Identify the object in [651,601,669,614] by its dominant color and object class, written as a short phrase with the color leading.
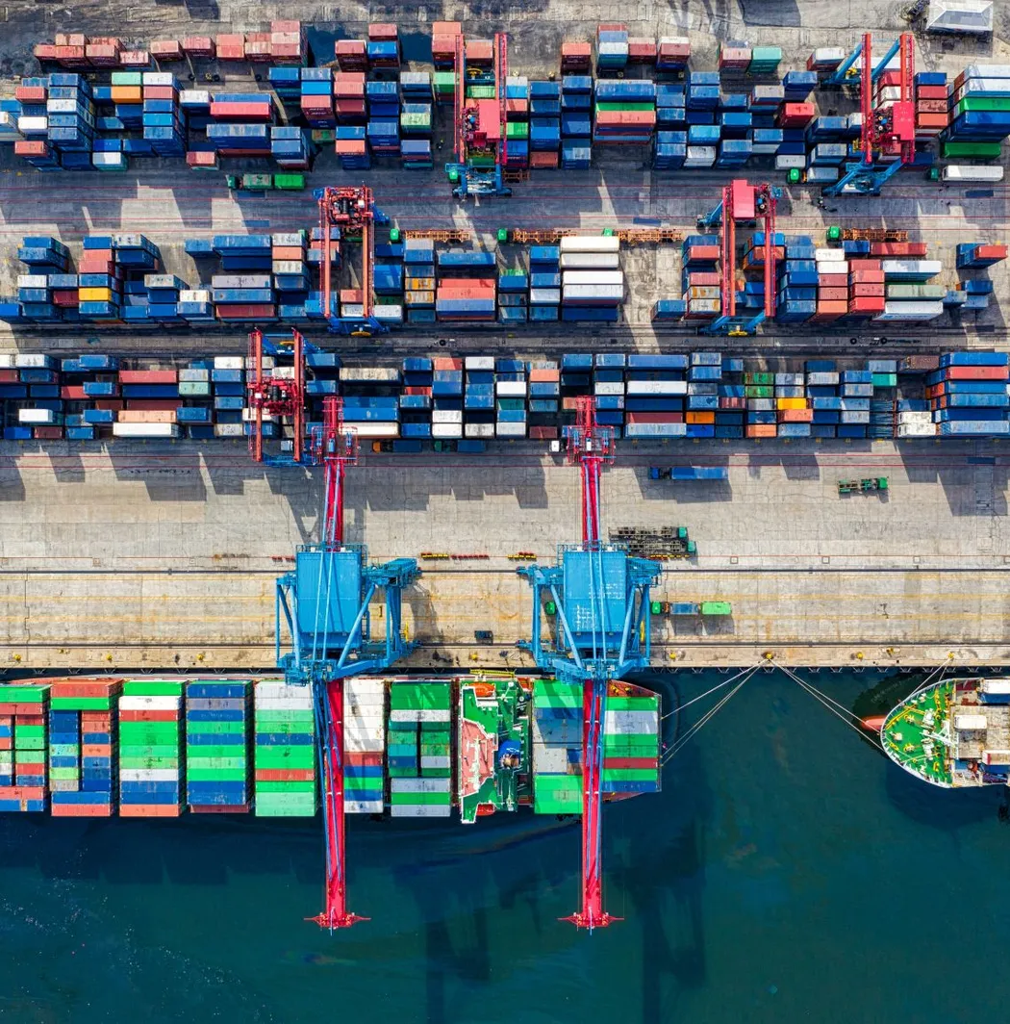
green vehicle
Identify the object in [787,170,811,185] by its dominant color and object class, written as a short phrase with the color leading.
green vehicle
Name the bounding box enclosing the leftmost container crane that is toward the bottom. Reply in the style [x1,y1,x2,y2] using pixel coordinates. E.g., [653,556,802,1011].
[271,399,423,935]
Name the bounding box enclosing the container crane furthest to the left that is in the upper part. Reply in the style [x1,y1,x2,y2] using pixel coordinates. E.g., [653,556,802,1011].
[250,332,326,469]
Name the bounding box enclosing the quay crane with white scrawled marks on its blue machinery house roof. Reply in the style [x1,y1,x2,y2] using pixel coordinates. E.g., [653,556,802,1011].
[510,399,663,935]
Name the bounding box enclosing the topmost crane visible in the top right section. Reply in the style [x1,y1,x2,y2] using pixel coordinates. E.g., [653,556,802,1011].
[825,34,917,196]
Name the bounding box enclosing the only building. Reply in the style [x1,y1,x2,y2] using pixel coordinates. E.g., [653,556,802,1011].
[924,0,992,34]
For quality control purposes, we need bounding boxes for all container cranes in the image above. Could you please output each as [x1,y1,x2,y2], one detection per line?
[450,34,510,197]
[510,399,663,935]
[700,175,780,337]
[250,332,326,469]
[271,399,423,935]
[318,183,388,337]
[825,34,917,196]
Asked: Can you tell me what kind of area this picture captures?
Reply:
port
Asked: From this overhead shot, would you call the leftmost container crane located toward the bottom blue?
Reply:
Yes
